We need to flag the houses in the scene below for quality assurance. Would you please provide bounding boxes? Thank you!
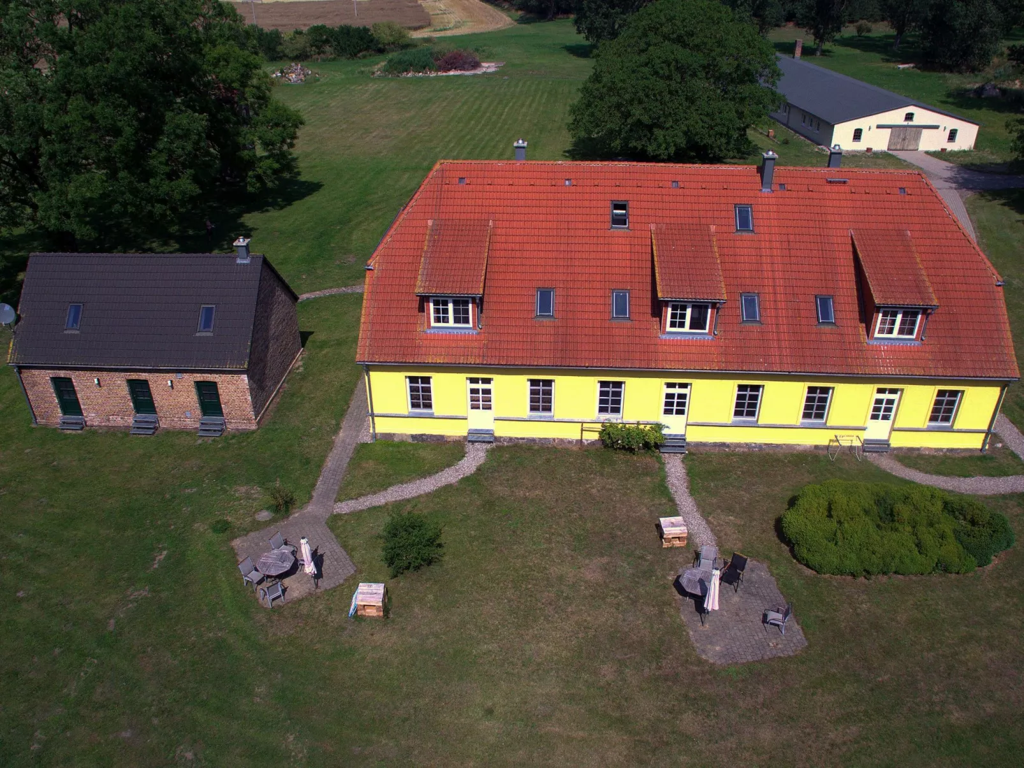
[356,141,1023,459]
[5,237,303,437]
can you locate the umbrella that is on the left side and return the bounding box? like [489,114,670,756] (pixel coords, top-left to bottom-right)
[300,535,325,593]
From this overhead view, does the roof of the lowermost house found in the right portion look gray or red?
red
